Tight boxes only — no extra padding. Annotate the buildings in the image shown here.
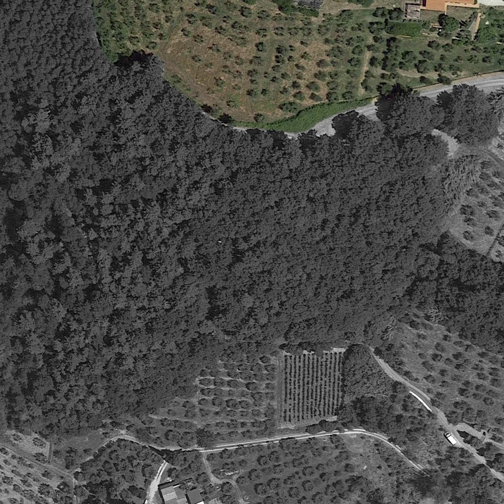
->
[160,485,187,504]
[419,0,475,10]
[186,487,204,504]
